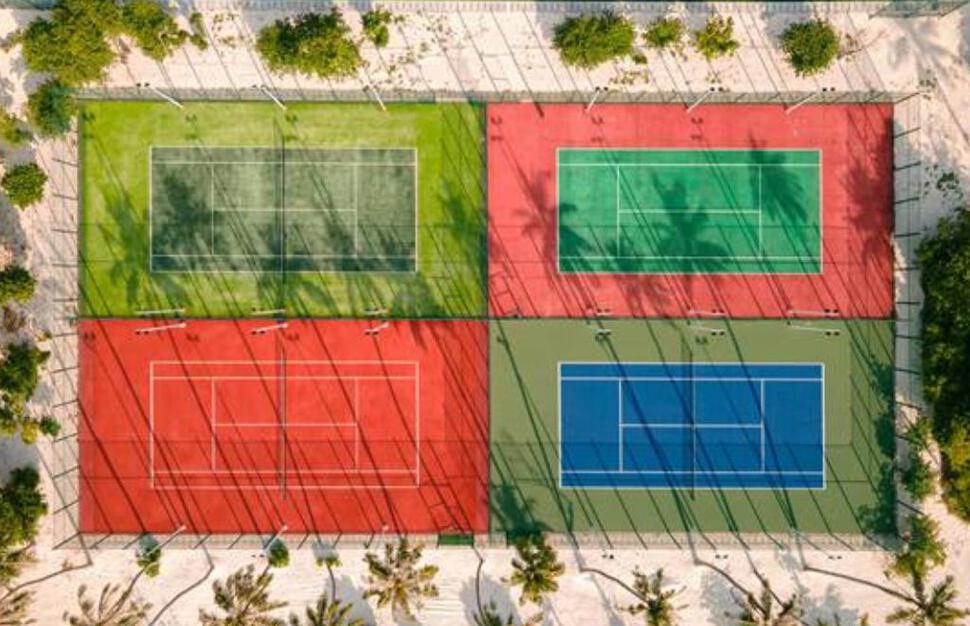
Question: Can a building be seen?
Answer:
No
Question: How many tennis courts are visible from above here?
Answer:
4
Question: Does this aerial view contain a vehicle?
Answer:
No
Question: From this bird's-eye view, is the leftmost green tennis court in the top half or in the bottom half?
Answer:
top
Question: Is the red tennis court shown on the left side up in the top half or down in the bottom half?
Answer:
bottom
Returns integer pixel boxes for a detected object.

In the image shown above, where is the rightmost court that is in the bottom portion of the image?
[489,320,894,534]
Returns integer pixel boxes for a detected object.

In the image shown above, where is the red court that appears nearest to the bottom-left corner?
[79,320,488,533]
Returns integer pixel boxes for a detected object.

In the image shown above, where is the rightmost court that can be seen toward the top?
[488,103,893,317]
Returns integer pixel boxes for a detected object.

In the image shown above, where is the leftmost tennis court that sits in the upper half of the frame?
[79,102,487,317]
